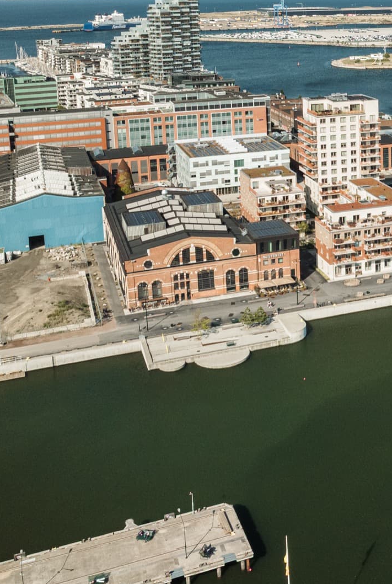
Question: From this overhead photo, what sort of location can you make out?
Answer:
port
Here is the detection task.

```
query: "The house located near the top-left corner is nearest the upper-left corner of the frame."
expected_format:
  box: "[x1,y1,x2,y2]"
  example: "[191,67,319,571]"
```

[38,40,67,70]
